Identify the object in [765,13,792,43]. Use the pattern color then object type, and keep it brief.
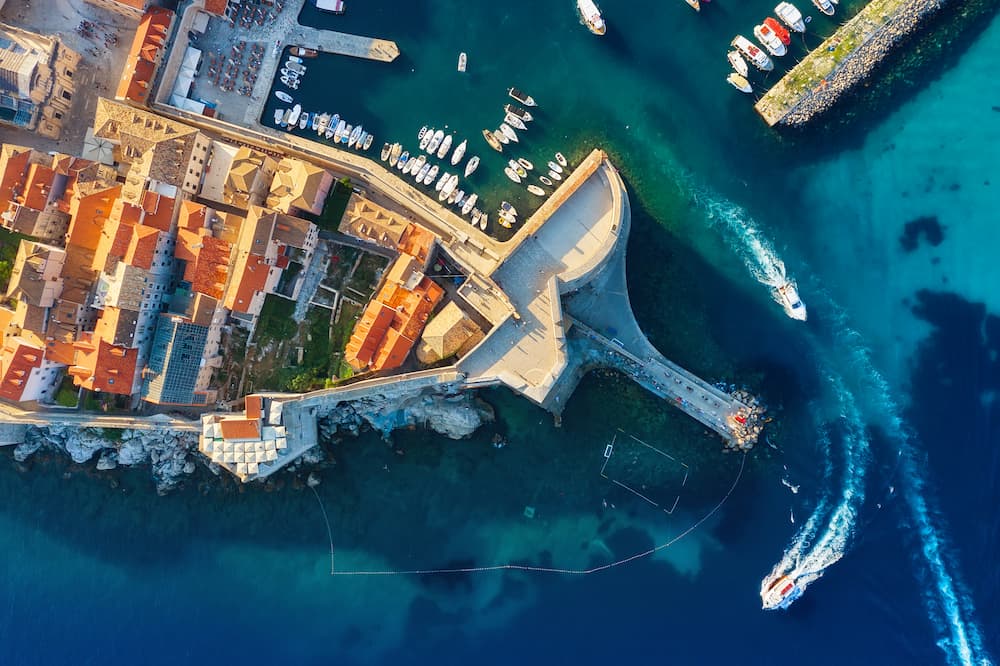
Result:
red boat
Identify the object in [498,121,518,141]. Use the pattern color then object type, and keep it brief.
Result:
white boat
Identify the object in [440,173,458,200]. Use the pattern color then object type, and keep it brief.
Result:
white boat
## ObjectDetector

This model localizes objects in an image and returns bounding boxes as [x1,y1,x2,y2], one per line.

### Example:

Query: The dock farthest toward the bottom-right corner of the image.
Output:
[562,250,749,437]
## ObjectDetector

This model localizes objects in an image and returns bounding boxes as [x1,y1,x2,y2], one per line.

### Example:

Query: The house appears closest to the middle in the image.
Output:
[422,301,484,358]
